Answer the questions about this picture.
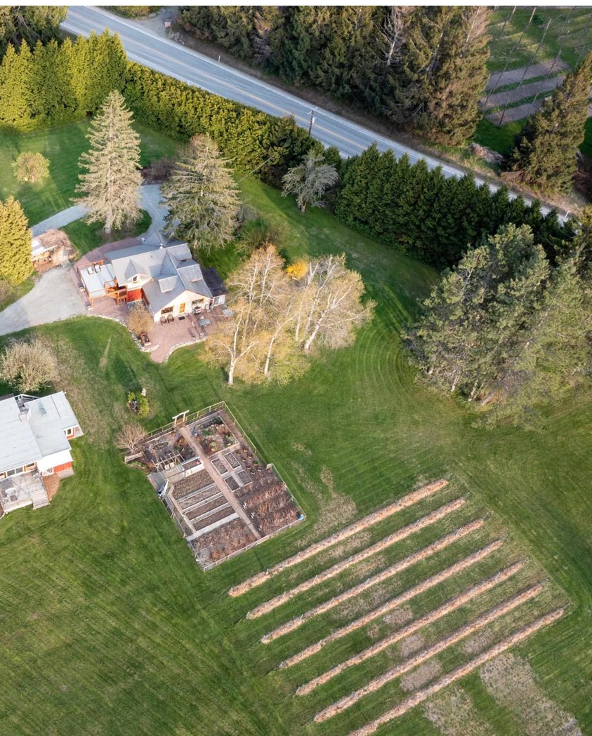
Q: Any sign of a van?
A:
No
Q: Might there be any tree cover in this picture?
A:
Yes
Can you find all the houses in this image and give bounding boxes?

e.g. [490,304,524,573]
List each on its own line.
[78,231,227,320]
[0,392,86,518]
